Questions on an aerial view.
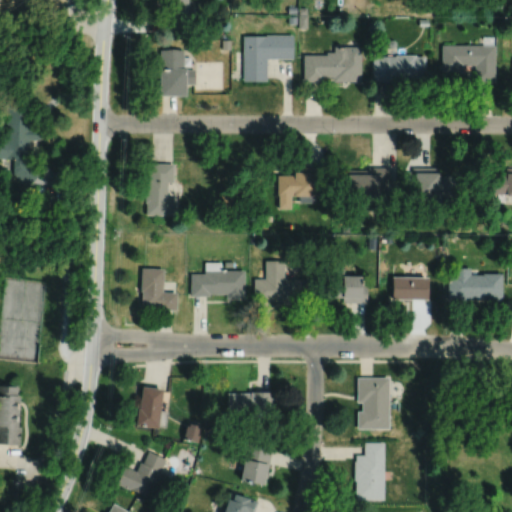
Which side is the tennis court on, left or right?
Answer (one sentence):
You can find the tennis court on the left side of the picture.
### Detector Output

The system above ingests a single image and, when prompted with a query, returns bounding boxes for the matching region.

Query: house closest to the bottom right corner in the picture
[356,444,386,501]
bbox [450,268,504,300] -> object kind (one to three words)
house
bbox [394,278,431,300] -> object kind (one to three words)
house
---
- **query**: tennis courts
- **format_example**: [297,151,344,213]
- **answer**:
[0,278,44,364]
